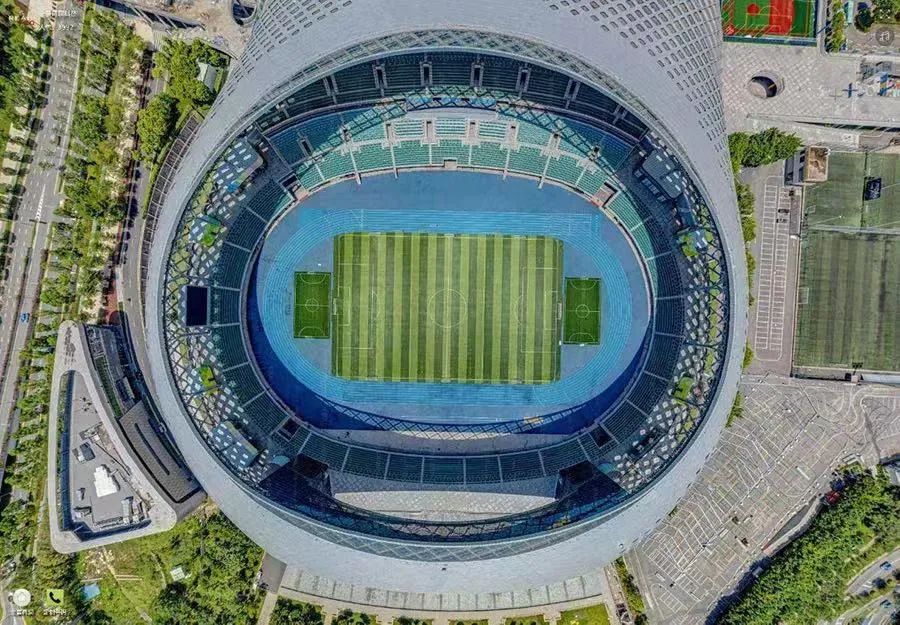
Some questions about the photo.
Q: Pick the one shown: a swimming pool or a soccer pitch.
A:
soccer pitch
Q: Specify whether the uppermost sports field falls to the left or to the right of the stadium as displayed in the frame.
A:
right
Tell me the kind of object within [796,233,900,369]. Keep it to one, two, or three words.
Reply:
sports field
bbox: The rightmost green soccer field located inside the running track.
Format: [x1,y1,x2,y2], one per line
[564,278,601,345]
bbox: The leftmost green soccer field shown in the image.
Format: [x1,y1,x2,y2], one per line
[294,272,330,338]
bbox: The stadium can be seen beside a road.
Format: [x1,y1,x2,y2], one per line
[145,0,749,593]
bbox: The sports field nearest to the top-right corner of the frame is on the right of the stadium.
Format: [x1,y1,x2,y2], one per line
[803,152,900,229]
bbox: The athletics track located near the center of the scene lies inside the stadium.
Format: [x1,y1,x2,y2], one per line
[260,208,637,405]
